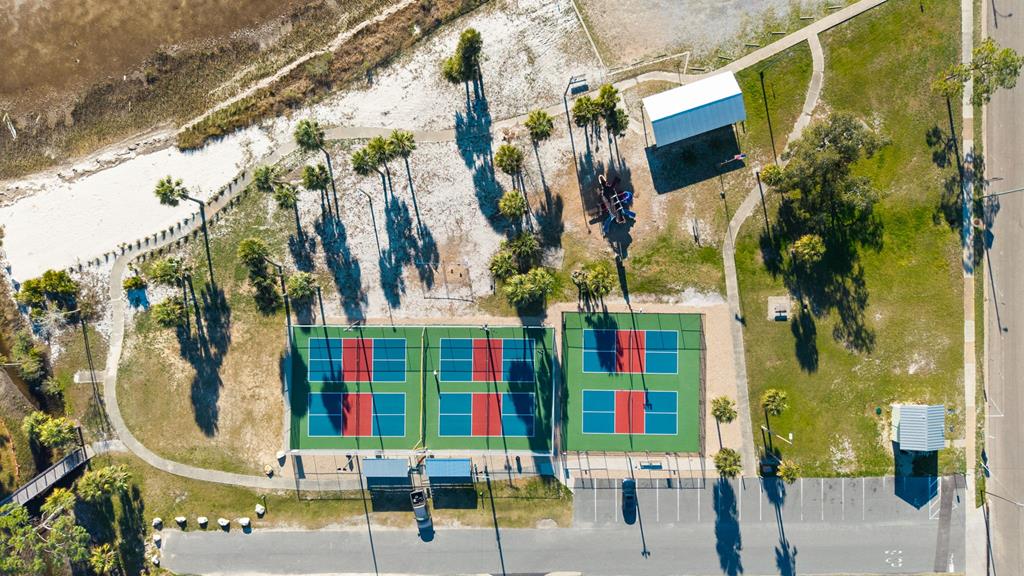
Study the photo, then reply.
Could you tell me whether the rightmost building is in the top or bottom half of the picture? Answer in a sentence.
It is in the bottom half that the rightmost building appears.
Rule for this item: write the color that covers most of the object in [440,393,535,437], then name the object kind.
blue sports court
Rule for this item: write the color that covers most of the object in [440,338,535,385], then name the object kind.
blue sports court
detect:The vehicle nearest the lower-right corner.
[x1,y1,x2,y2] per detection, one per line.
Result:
[622,478,639,513]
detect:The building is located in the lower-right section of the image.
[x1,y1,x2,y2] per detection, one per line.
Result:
[890,404,944,451]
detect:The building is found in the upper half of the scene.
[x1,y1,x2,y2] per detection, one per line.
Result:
[642,71,746,147]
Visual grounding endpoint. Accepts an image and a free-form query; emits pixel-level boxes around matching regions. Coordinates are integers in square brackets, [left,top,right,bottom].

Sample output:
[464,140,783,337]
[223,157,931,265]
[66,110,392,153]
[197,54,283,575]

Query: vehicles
[622,478,639,513]
[407,488,432,531]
